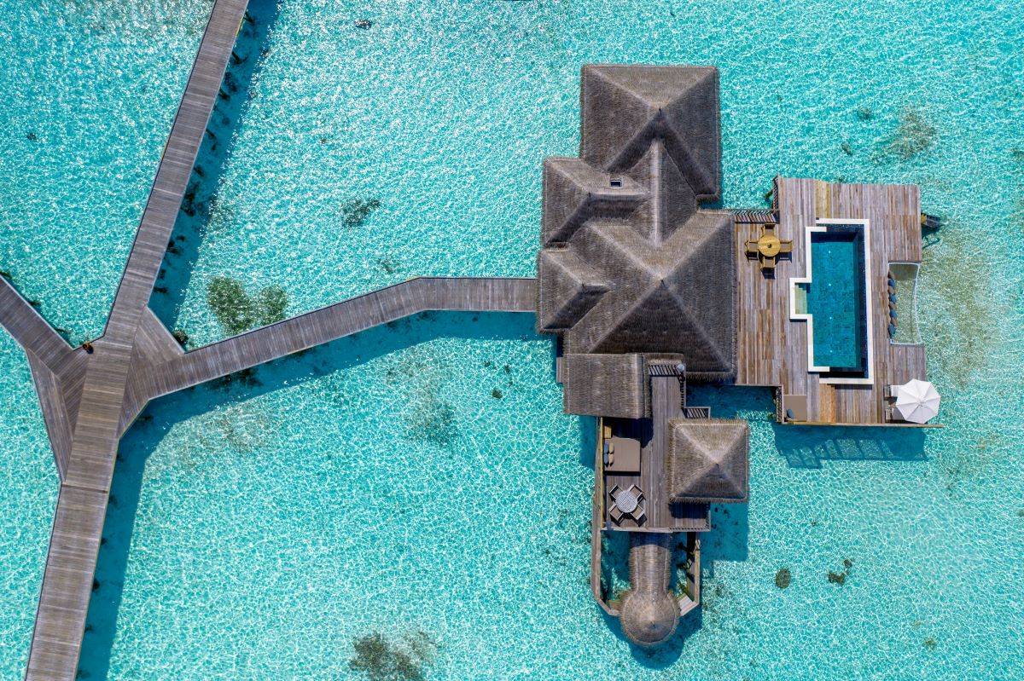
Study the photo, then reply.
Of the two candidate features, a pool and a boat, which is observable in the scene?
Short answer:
pool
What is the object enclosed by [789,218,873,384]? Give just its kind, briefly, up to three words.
swimming pool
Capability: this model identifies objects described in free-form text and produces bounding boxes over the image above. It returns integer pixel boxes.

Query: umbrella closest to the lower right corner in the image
[890,378,939,424]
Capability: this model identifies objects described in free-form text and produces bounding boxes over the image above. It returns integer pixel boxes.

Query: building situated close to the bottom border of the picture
[618,531,683,652]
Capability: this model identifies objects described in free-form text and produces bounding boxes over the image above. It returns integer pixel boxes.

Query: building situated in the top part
[534,63,738,421]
